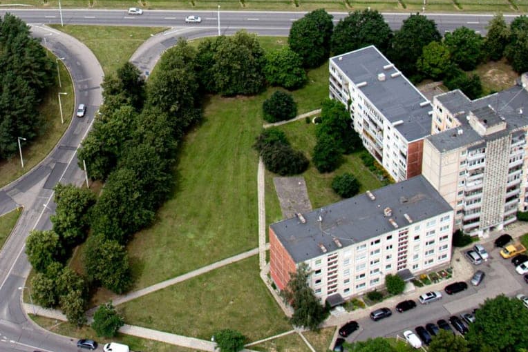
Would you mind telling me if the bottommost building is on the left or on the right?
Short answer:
right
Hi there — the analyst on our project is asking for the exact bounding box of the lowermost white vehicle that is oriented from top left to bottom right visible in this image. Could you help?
[404,326,420,349]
